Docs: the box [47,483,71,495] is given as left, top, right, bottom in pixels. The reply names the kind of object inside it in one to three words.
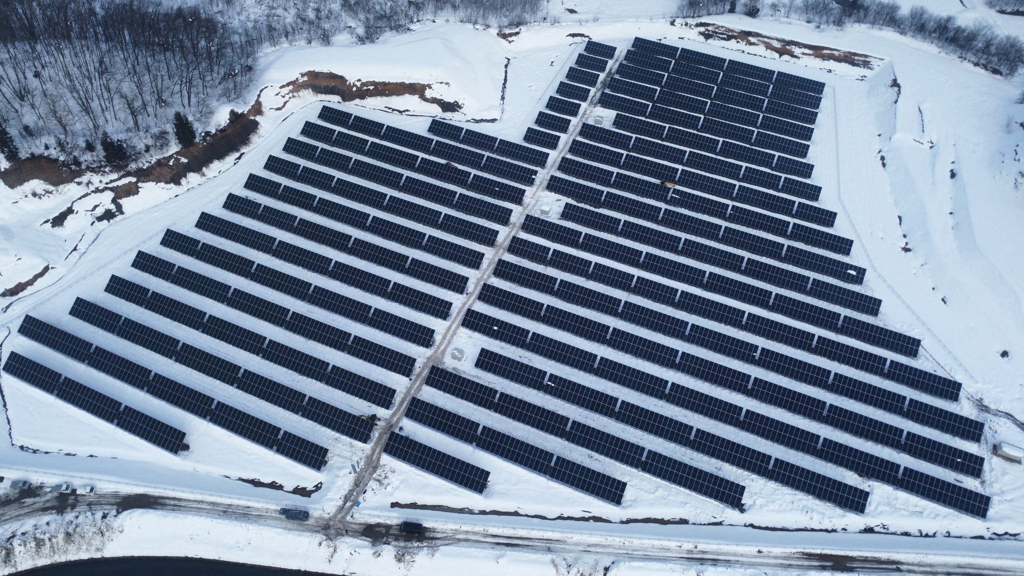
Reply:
vehicle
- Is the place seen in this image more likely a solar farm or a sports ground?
solar farm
